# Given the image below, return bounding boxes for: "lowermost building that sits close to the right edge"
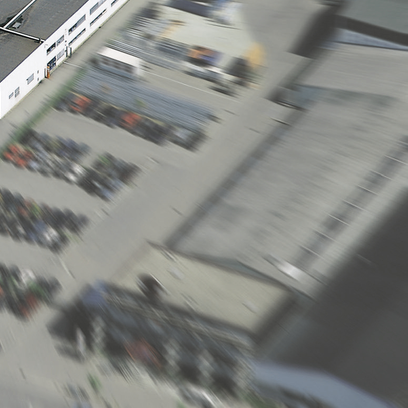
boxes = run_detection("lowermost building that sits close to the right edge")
[260,200,408,408]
